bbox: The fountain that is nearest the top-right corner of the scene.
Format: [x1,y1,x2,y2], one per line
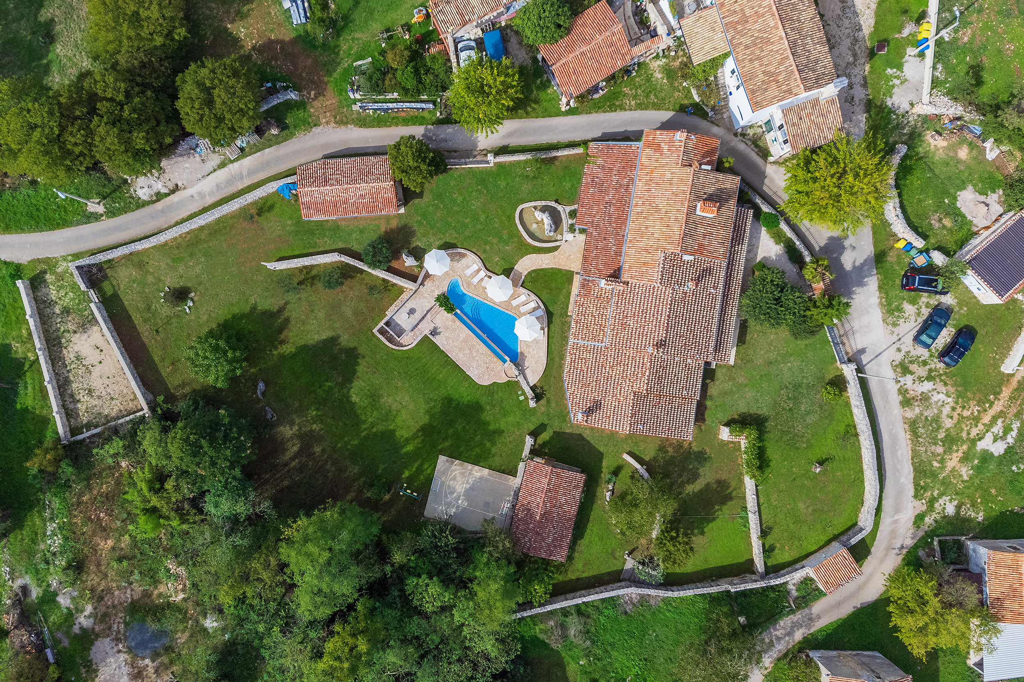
[532,210,555,234]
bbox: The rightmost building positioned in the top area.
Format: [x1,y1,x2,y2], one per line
[949,209,1024,304]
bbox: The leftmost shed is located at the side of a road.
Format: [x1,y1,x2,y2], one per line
[295,154,399,221]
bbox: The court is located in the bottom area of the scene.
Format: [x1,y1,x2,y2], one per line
[424,455,515,531]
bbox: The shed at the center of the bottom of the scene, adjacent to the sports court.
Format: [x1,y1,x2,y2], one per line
[510,453,588,563]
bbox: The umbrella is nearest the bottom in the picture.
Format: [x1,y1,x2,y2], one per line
[513,314,541,342]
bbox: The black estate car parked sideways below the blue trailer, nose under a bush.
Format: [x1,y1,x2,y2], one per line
[898,272,947,295]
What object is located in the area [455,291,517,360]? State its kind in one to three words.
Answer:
swimming pool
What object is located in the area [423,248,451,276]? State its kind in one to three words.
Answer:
umbrella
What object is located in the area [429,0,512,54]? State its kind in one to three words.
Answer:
house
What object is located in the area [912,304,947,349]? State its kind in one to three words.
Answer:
car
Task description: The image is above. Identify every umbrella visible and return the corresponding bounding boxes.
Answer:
[513,314,541,342]
[486,275,513,302]
[423,248,451,276]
